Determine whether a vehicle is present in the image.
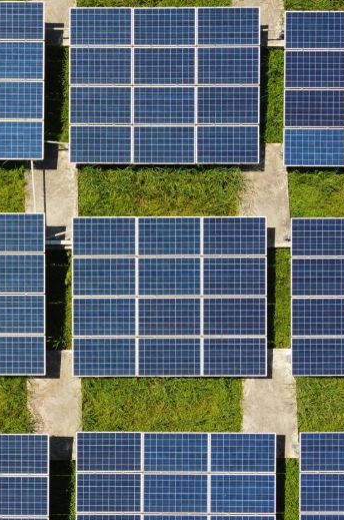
No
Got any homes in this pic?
No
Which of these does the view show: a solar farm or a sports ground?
solar farm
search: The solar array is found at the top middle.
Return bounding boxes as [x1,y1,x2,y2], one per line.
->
[66,7,260,163]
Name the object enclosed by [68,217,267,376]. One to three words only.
solar array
